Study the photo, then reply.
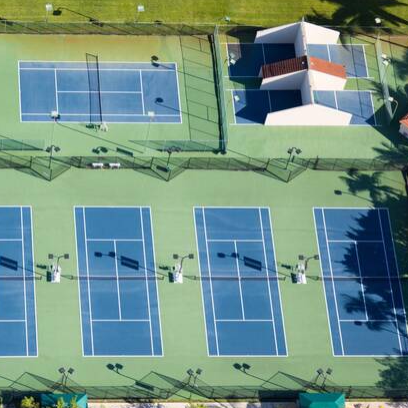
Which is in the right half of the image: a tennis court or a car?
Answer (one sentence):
You can see a tennis court in the right half of the image.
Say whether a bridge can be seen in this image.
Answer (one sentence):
No, no bridge is visible in the scene.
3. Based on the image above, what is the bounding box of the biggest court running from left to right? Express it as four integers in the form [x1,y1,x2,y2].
[17,61,184,123]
